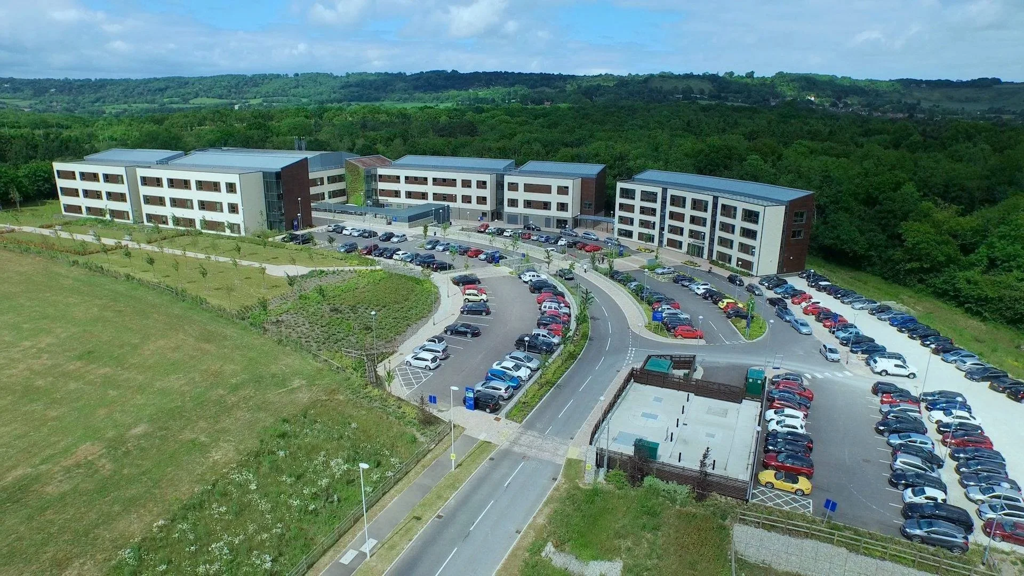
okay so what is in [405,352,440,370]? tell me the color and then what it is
white car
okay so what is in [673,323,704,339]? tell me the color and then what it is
red car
